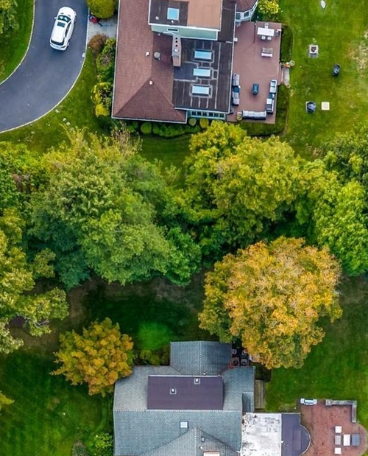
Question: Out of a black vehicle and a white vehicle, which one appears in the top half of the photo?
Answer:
white vehicle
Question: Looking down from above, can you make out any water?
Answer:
No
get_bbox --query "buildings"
[112,0,258,128]
[112,342,310,456]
